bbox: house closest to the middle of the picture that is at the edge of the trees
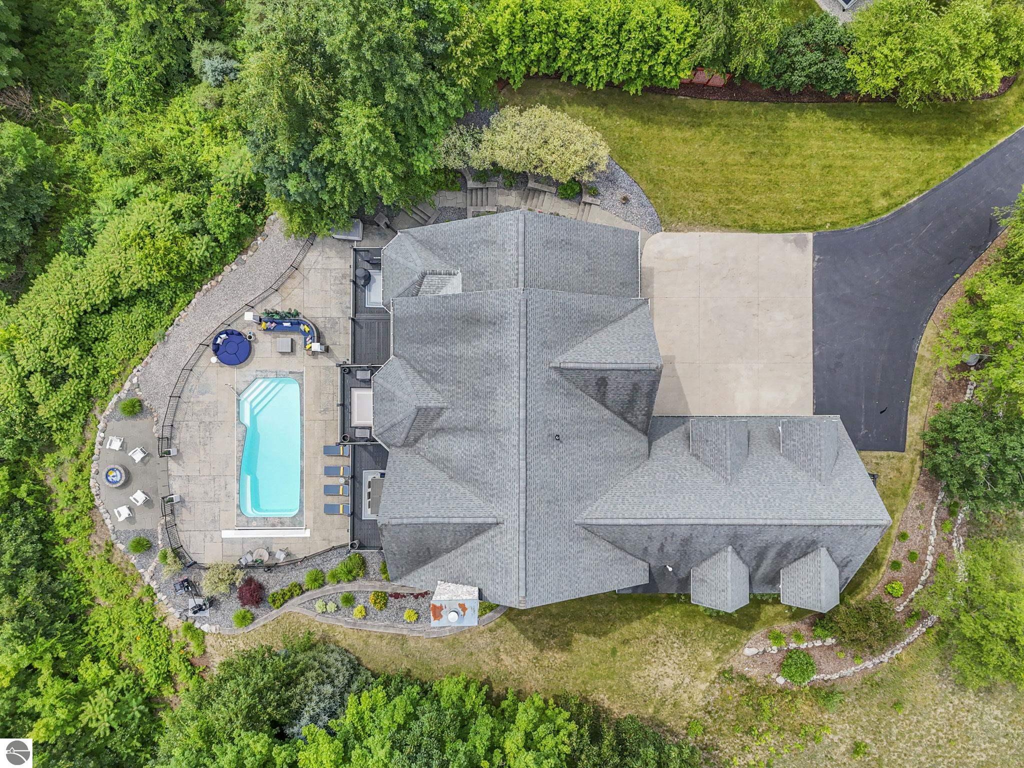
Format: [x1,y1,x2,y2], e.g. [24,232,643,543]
[370,209,892,627]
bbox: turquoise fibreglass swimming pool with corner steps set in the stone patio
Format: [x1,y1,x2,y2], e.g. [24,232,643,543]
[237,372,303,526]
